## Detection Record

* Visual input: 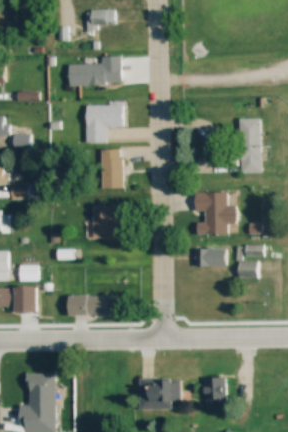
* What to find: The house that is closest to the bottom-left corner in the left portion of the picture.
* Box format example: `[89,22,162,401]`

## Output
[18,374,58,432]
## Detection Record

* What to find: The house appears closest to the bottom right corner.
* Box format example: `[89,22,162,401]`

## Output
[212,378,228,400]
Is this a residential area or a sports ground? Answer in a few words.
residential area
